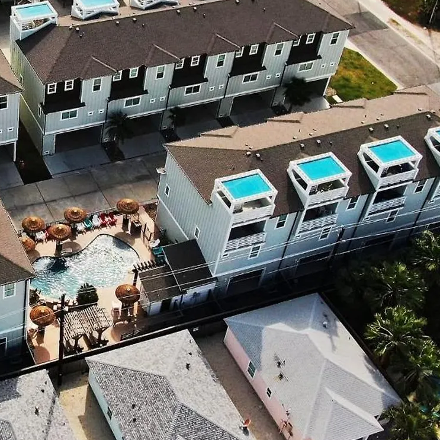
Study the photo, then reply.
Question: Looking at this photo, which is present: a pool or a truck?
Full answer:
Visible in the photo is a pool.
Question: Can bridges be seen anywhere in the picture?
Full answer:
No, no bridge is visible in the scene.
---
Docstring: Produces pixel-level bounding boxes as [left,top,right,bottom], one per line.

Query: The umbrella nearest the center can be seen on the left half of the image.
[114,202,140,227]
